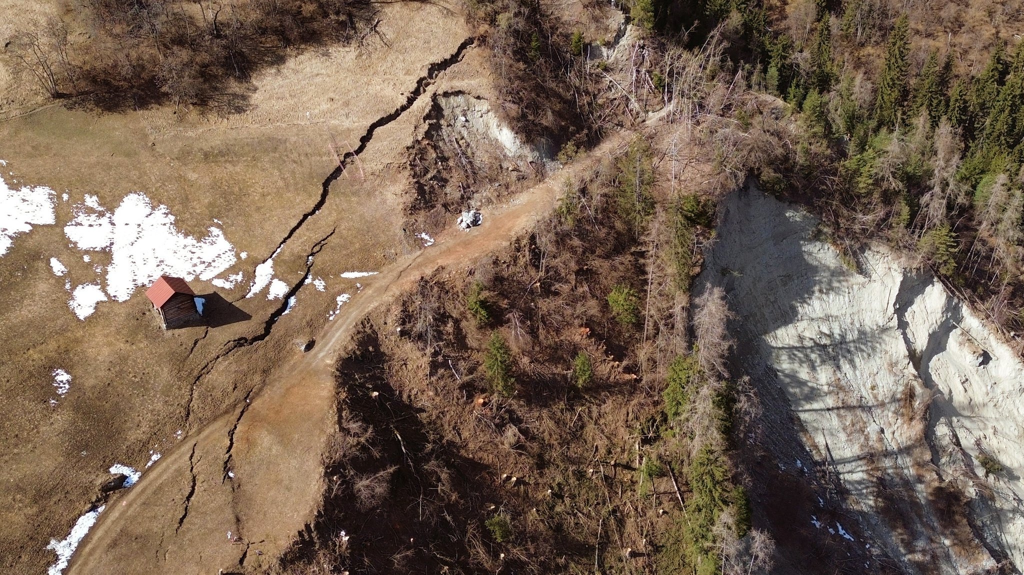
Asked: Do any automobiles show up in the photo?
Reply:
No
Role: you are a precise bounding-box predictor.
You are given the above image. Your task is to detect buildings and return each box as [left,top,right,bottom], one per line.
[145,275,198,333]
